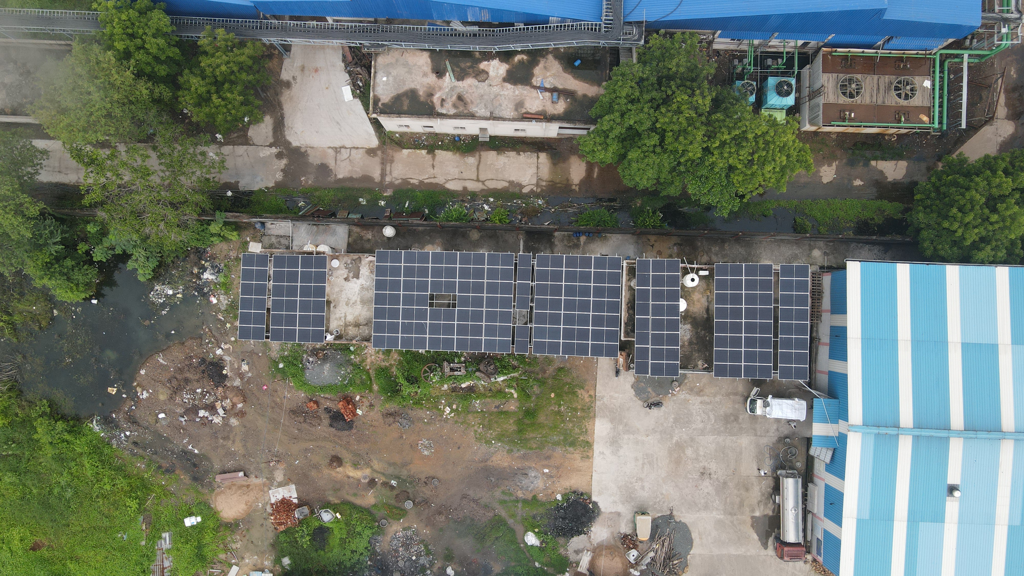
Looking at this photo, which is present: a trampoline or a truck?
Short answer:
truck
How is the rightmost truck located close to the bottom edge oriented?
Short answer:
up and down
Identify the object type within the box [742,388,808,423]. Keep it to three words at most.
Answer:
truck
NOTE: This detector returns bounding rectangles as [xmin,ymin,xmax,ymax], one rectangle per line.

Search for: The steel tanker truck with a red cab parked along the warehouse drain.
[766,464,804,566]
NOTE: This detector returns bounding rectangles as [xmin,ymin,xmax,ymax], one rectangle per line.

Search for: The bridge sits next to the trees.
[0,0,645,58]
